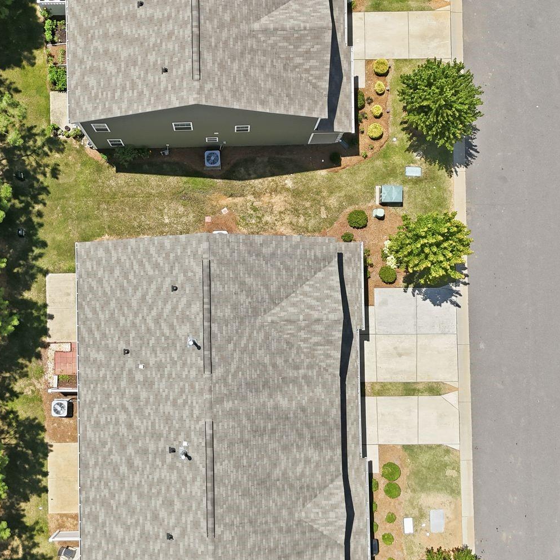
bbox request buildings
[66,0,356,148]
[74,233,371,560]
